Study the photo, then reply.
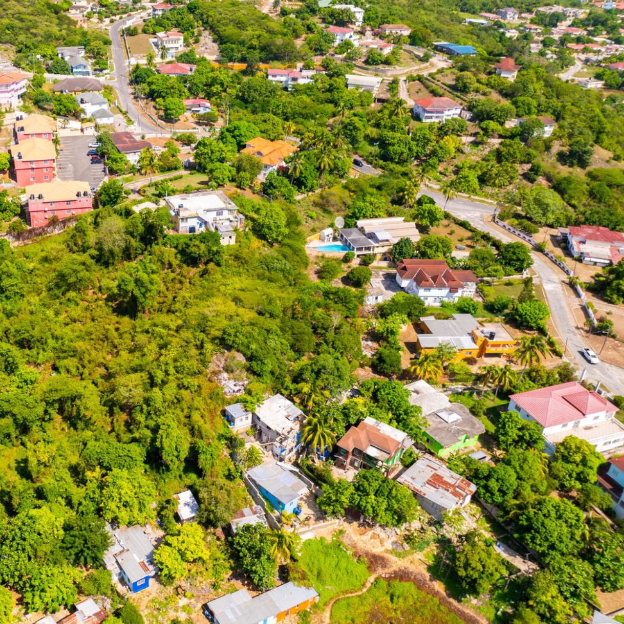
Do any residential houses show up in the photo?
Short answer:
Yes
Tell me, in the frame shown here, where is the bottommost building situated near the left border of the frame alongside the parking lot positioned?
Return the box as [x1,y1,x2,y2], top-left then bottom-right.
[19,183,91,227]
